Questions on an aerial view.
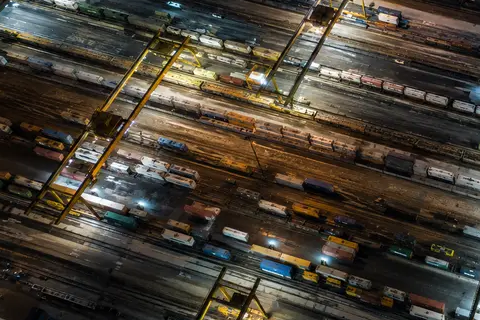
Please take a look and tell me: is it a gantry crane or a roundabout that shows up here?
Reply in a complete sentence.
It is a gantry crane that can be seen here.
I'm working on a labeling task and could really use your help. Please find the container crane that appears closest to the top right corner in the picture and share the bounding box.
[259,0,364,112]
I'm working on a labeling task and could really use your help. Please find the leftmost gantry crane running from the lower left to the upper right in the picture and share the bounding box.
[23,29,206,227]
